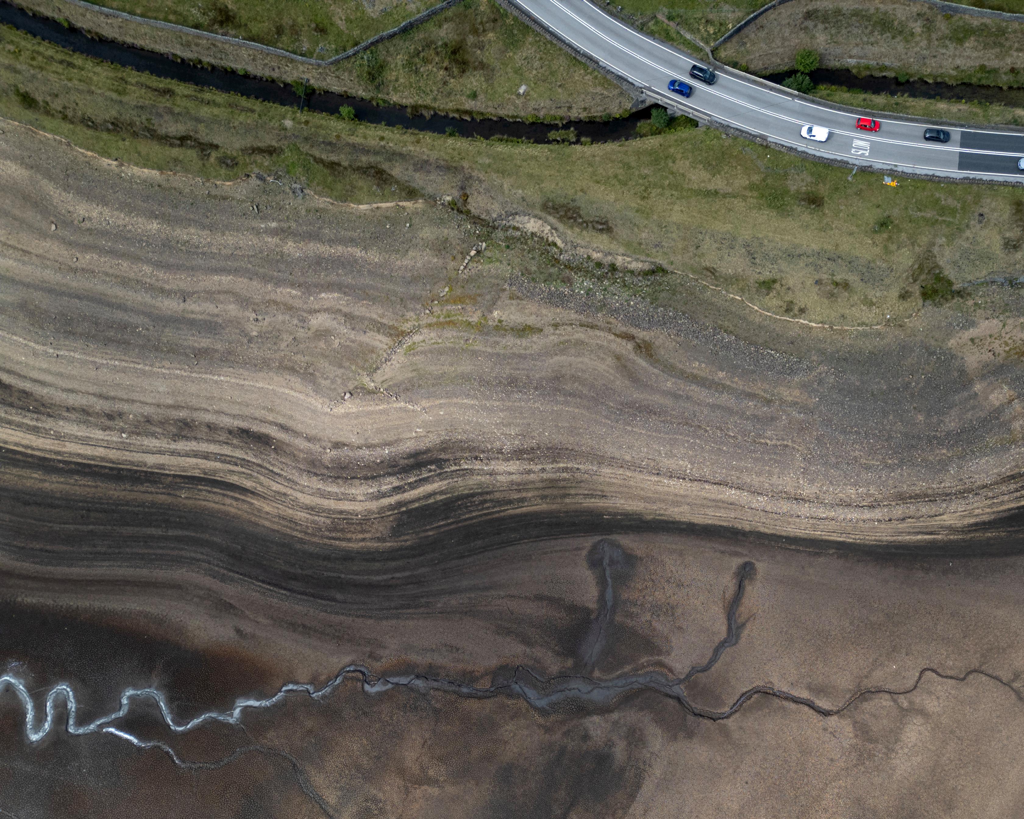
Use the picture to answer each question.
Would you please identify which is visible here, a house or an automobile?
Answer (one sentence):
I can see an automobile in this picture.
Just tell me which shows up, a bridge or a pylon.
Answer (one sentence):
There is a bridge in the scene.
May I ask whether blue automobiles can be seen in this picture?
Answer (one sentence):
Yes, there is a blue automobile in the image.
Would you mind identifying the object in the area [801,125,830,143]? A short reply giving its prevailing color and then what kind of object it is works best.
white vehicle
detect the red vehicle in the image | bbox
[857,117,881,132]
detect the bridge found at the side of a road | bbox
[635,69,801,125]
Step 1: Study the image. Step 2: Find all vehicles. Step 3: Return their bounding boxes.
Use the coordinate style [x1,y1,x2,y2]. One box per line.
[669,81,693,98]
[801,125,830,143]
[689,65,716,85]
[857,117,881,132]
[1019,159,1024,171]
[924,128,951,143]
